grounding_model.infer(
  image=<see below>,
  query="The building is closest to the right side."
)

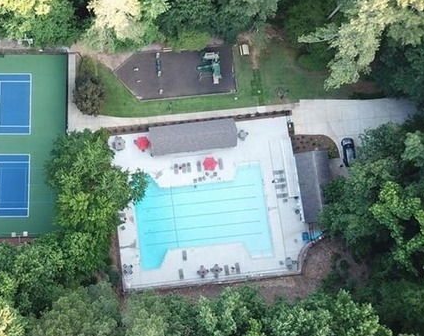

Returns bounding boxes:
[294,150,337,223]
